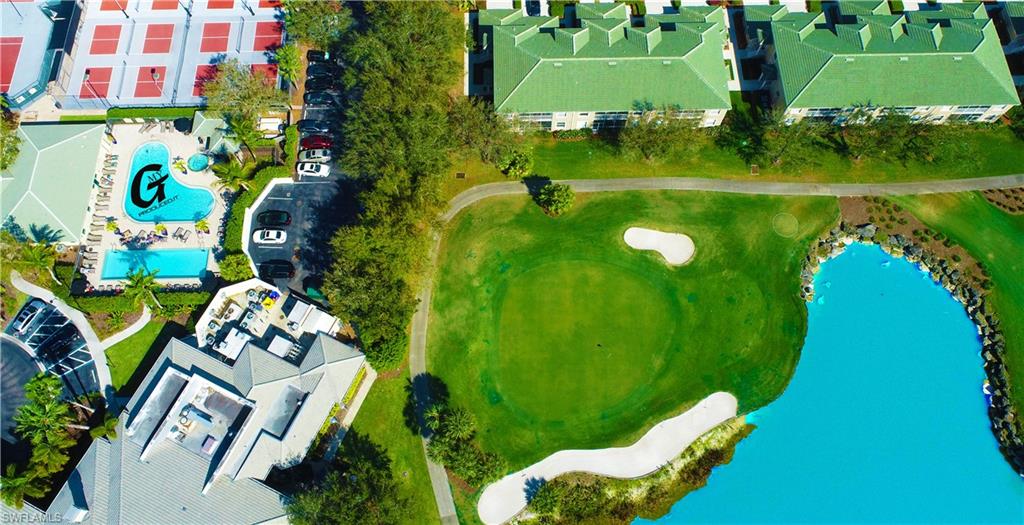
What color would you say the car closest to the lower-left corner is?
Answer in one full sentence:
In this view, the car closest to the lower-left corner is black.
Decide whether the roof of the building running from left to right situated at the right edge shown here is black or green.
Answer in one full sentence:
From above, the roof of the building running from left to right situated at the right edge appears green.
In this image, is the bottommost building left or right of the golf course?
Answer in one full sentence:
The bottommost building can be seen on the left of the golf course.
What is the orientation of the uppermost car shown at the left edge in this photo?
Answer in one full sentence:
The uppermost car shown at the left edge is laid out diagonally.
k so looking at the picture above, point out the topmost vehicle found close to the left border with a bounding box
[11,298,44,329]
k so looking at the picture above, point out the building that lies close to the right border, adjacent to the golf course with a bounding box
[743,0,1022,129]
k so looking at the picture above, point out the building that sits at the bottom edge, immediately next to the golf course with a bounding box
[0,331,364,525]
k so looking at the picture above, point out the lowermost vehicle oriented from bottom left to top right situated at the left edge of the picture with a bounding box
[36,331,73,360]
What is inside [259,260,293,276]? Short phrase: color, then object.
black car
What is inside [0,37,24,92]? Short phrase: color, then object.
red tennis court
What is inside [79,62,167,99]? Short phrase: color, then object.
red sports court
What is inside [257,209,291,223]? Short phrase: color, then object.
black car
